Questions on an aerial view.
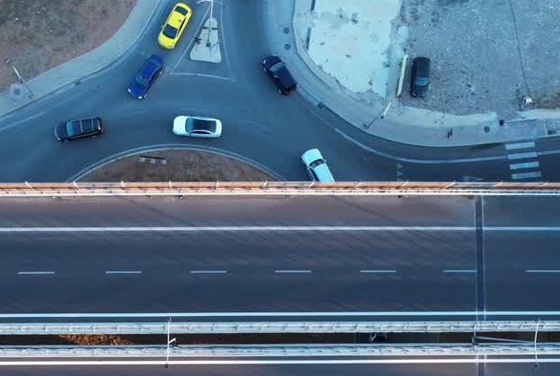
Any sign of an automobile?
Yes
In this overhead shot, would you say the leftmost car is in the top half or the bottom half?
top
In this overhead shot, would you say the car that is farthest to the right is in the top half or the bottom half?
top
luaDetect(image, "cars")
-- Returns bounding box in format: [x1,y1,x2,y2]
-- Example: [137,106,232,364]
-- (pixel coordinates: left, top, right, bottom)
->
[55,115,105,143]
[160,1,192,51]
[128,53,164,102]
[408,56,431,101]
[172,114,221,139]
[260,54,299,100]
[304,148,340,186]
